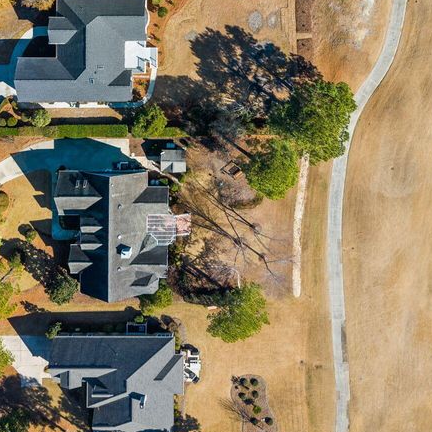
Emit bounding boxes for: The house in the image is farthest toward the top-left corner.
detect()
[8,0,157,102]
